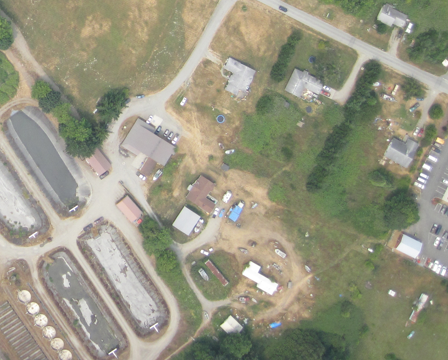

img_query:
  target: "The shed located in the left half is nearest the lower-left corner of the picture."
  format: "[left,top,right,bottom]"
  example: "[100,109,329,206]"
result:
[116,194,143,223]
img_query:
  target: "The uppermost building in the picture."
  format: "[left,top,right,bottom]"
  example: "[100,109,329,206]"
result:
[378,4,407,29]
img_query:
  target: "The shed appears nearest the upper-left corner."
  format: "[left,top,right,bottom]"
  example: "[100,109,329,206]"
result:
[86,148,113,176]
